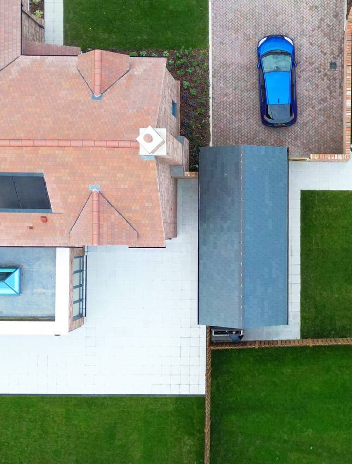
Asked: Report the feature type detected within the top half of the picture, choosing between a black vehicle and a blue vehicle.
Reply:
blue vehicle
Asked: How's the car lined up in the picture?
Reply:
from top to bottom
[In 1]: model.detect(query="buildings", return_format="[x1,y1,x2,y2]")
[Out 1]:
[0,0,189,336]
[197,145,289,328]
